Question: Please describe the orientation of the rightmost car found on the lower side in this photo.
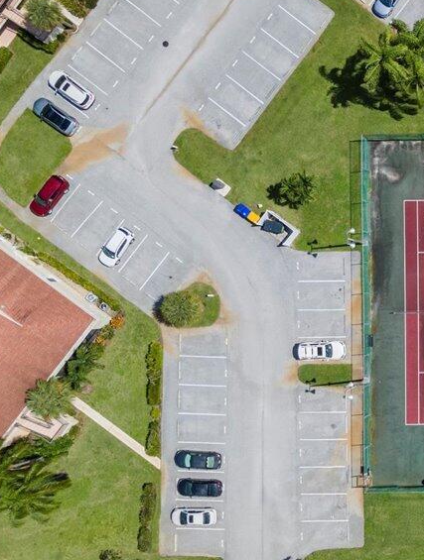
from side to side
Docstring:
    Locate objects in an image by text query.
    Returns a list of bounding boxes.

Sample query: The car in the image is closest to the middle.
[100,227,136,270]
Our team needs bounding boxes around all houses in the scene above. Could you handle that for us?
[0,235,113,448]
[0,0,29,57]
